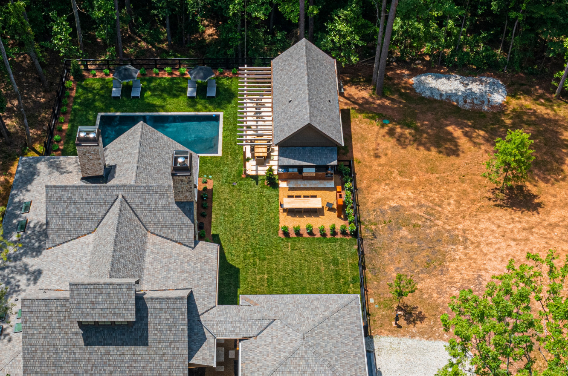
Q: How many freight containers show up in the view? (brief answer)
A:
0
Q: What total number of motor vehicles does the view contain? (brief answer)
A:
zero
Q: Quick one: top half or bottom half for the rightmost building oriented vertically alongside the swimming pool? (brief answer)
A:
top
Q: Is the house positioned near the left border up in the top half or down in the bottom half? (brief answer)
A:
bottom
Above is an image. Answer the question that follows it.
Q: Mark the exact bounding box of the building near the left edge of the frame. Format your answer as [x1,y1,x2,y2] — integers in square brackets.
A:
[0,119,221,376]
